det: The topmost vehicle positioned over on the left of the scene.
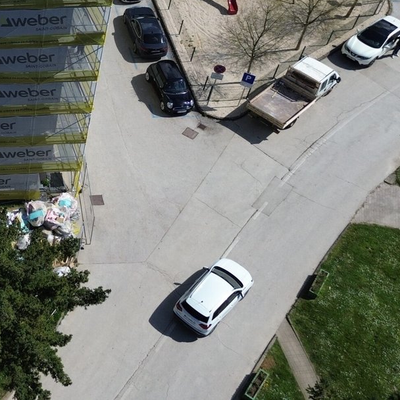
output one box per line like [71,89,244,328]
[124,3,171,57]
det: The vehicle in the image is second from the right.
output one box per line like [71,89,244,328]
[256,52,347,131]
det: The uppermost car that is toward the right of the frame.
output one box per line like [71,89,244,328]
[347,13,400,67]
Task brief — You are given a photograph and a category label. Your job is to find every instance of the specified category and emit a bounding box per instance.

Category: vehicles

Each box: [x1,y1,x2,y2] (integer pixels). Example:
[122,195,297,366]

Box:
[146,57,194,111]
[124,3,171,57]
[174,252,259,336]
[256,52,347,131]
[347,13,400,67]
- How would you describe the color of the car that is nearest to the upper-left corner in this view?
black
